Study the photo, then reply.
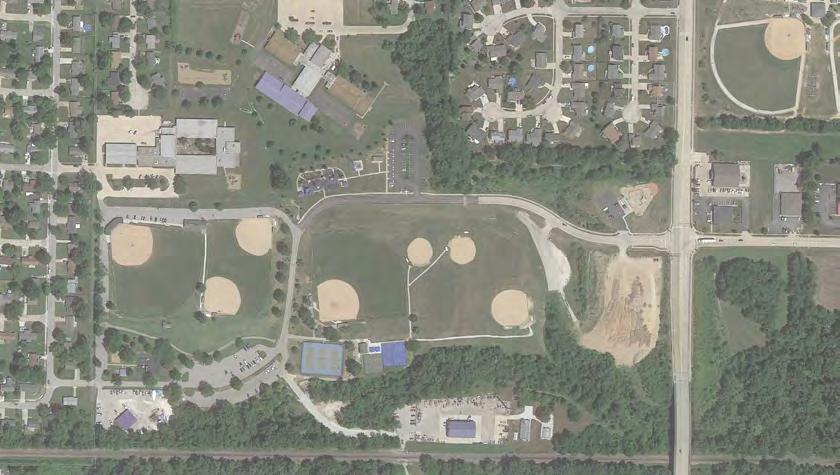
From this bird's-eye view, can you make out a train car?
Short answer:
No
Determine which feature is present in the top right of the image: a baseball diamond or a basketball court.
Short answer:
baseball diamond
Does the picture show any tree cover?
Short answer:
Yes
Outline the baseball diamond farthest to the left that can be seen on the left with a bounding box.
[107,222,202,325]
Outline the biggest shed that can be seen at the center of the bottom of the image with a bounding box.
[446,420,476,438]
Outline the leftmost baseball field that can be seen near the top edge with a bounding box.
[714,14,810,109]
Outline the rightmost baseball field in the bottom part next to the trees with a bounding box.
[492,290,532,329]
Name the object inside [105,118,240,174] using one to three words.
building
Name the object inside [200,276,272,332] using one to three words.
baseball field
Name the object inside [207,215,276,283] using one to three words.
baseball field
